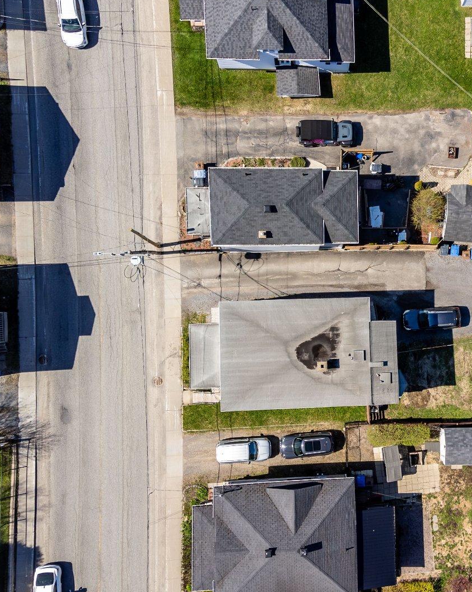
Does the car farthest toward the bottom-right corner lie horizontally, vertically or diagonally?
horizontally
